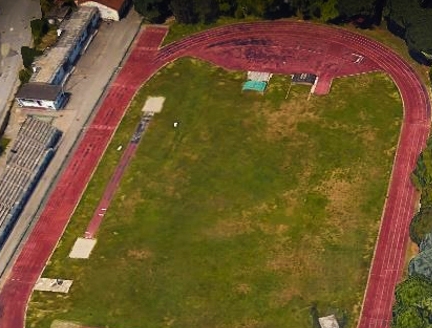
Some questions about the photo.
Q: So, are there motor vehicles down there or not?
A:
No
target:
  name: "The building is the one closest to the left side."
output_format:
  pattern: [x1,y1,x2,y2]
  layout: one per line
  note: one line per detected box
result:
[17,81,64,111]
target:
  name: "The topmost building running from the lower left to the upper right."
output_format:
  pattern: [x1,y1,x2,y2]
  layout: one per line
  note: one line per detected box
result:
[31,7,101,84]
